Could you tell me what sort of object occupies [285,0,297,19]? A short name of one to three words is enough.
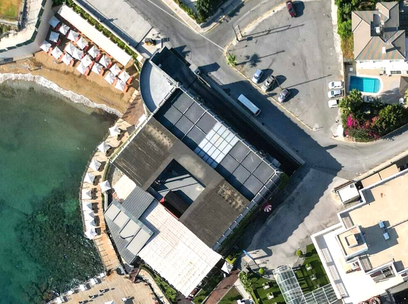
vehicle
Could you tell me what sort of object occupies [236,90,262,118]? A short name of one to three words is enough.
vehicle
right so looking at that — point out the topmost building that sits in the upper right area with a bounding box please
[352,2,408,77]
